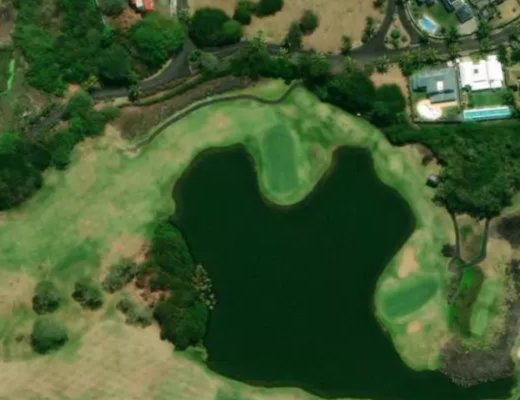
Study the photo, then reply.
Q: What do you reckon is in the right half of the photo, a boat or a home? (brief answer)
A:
home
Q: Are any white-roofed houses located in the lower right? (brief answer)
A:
No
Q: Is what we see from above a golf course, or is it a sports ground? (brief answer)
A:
golf course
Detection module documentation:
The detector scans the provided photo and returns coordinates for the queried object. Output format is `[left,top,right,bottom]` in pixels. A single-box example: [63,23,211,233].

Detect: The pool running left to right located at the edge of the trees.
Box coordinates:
[463,107,510,122]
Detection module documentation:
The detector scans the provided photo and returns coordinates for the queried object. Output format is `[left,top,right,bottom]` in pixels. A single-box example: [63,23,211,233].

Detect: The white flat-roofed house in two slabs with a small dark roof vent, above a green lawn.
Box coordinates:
[460,54,504,90]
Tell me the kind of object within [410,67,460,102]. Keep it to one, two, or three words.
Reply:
house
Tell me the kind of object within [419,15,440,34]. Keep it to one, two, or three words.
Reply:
swimming pool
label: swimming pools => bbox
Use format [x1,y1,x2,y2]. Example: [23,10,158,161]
[419,15,440,34]
[463,107,510,122]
